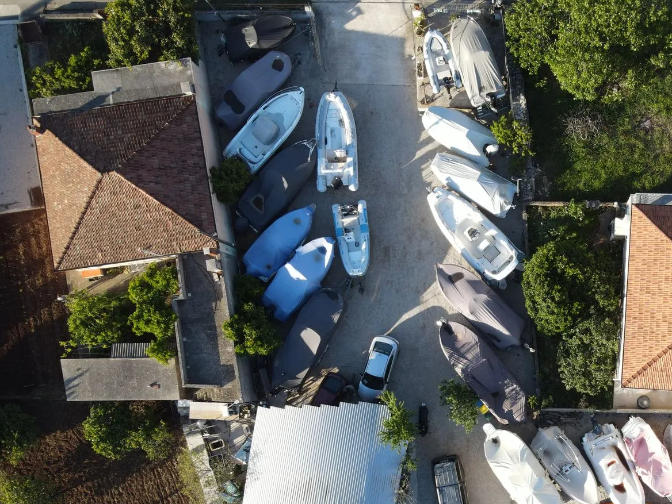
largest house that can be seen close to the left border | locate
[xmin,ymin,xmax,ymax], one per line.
[19,91,236,273]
